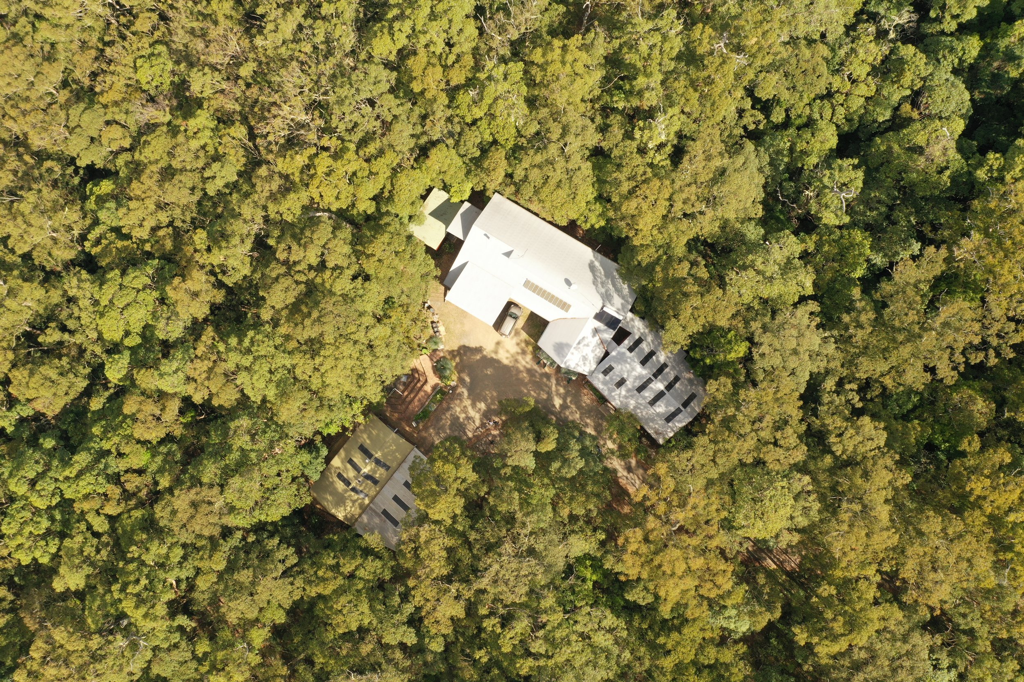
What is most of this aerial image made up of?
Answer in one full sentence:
The scene is dominated by trees.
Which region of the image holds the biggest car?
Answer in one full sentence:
The biggest car sits in the center section of the image.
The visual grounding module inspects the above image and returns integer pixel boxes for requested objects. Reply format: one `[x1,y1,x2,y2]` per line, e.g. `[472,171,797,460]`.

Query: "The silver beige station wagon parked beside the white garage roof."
[498,304,521,340]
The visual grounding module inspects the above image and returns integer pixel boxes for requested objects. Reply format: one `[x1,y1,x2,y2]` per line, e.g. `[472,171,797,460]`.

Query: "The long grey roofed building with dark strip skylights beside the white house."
[587,311,711,445]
